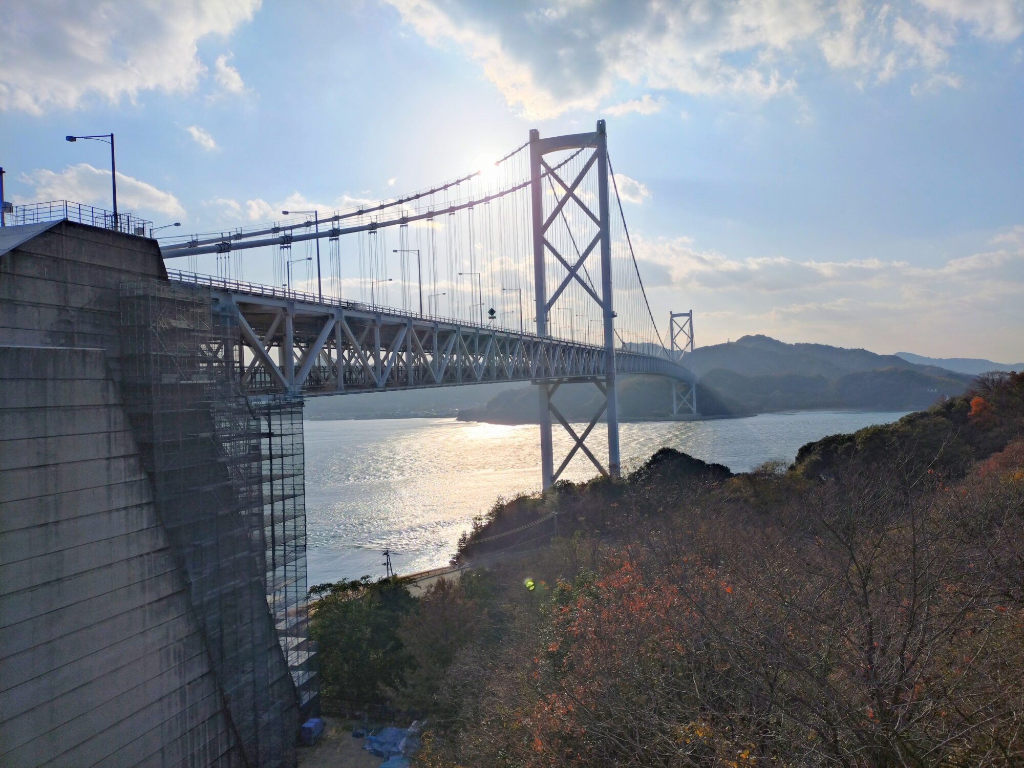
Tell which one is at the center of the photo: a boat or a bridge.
bridge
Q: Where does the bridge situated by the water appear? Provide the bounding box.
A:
[162,118,700,488]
